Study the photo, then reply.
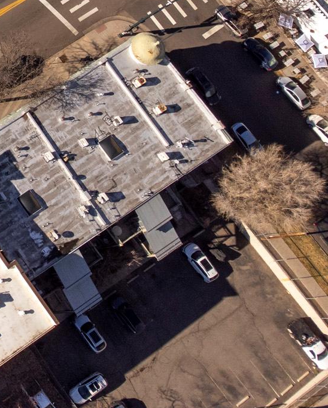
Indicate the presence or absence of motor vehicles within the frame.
Yes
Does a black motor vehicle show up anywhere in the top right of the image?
Yes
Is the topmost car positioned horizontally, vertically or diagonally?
diagonally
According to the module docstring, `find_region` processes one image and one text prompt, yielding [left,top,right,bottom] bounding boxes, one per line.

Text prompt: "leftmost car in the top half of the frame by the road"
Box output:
[182,66,225,109]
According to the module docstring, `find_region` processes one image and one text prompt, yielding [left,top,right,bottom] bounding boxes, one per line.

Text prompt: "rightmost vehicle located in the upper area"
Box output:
[303,115,328,153]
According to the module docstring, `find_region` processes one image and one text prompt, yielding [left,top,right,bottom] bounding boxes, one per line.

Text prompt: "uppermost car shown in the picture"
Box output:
[212,5,251,42]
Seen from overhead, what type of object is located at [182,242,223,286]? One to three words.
car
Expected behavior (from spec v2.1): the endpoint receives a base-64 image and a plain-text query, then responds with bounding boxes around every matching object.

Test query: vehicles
[303,115,328,153]
[241,37,281,74]
[284,315,328,367]
[73,312,111,358]
[182,242,223,286]
[107,291,152,341]
[182,66,225,109]
[67,370,111,407]
[273,75,314,112]
[212,5,251,42]
[226,118,267,157]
